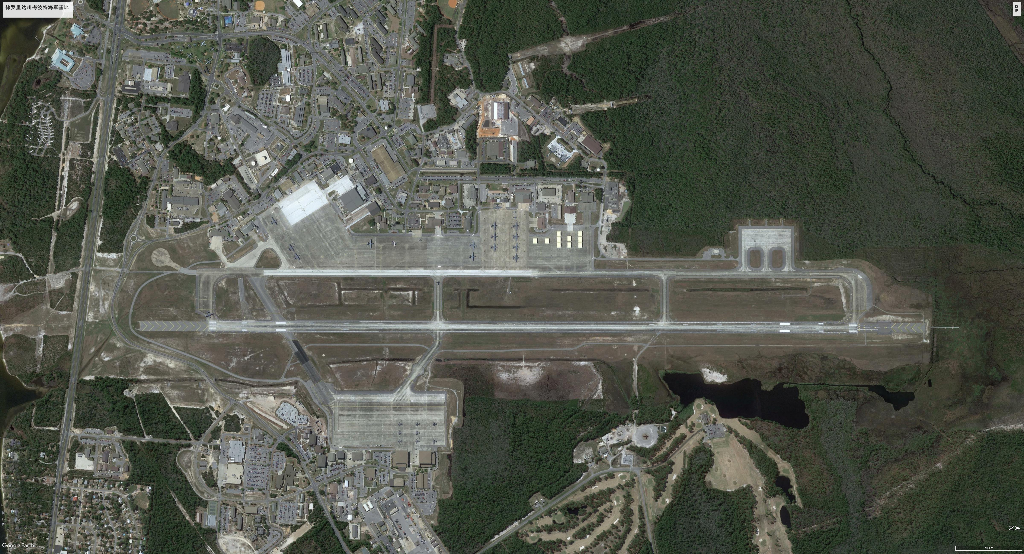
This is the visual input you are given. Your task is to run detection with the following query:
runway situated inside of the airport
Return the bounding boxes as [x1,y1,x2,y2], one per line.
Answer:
[209,321,857,333]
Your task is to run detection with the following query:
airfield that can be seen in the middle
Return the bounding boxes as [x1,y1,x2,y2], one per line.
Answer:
[140,175,925,465]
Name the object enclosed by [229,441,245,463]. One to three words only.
building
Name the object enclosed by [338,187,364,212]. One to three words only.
hangar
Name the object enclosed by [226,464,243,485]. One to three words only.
building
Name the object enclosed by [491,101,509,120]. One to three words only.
hangar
